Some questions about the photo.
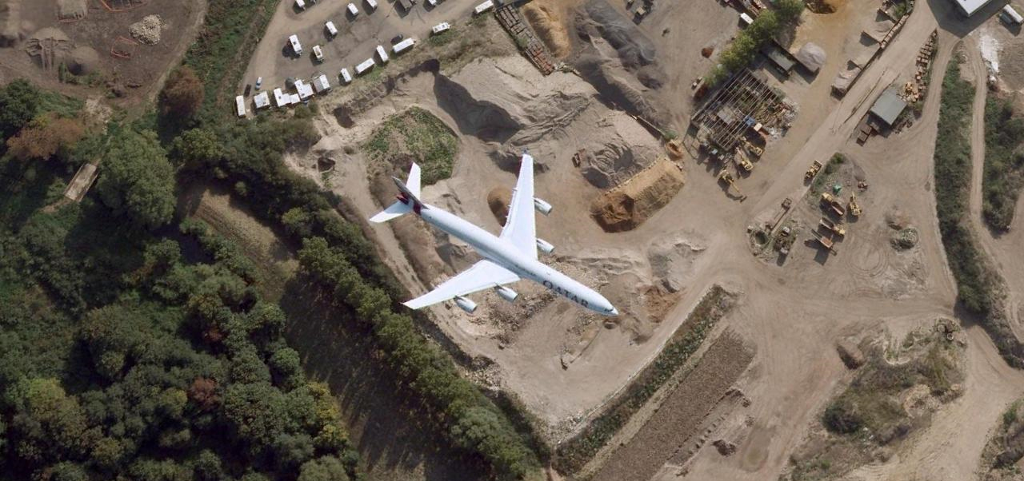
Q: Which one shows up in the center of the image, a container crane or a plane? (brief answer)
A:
plane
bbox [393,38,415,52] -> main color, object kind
white camper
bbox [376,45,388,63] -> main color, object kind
white vehicle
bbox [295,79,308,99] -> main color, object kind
white vehicle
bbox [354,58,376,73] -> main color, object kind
white camper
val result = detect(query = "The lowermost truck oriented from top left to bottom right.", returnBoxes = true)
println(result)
[820,215,846,237]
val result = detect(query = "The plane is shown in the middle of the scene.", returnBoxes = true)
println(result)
[372,143,614,314]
